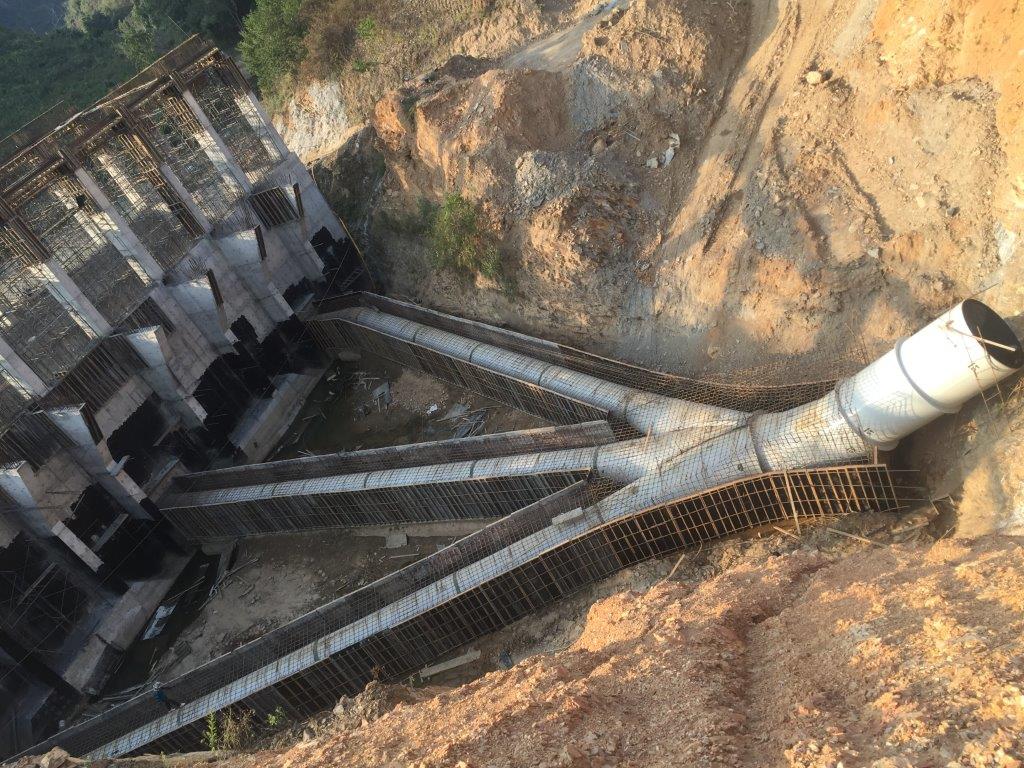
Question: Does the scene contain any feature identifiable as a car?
No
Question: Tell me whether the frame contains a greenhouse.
No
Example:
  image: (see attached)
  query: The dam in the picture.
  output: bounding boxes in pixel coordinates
[0,53,365,697]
